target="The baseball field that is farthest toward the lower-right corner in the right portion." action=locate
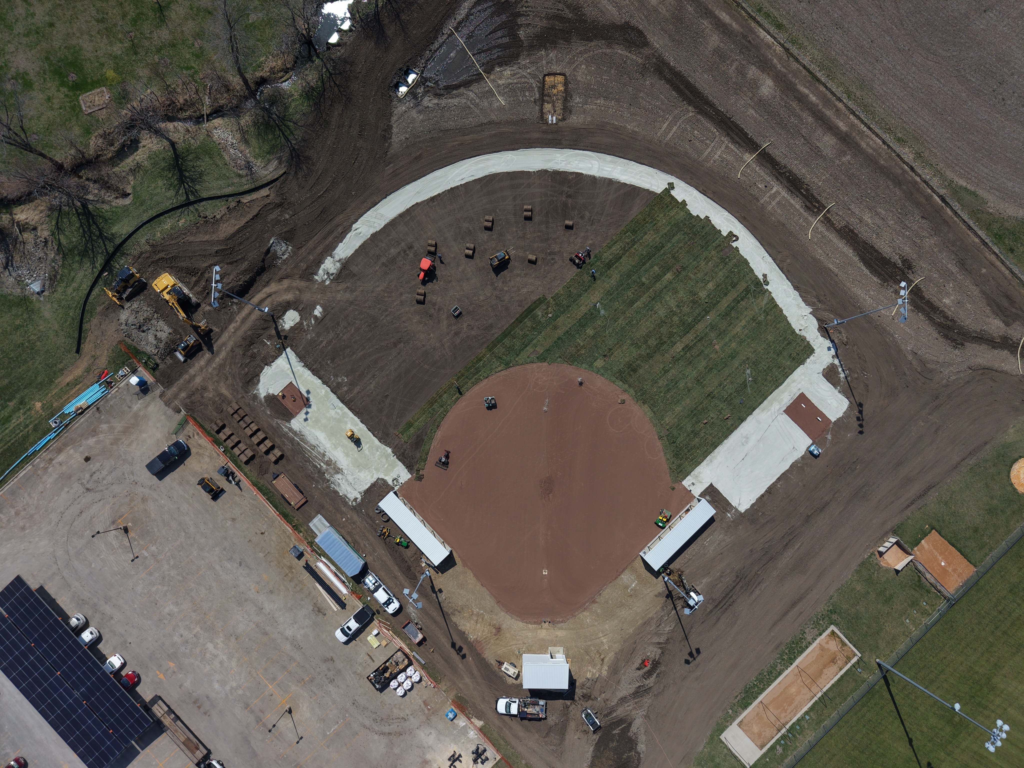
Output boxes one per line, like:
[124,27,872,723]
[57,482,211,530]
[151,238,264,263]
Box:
[780,522,1024,768]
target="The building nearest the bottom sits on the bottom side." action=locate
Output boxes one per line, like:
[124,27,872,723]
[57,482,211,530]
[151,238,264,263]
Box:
[522,640,571,696]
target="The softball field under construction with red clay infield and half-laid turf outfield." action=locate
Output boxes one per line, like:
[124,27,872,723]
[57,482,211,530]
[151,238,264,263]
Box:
[325,148,849,625]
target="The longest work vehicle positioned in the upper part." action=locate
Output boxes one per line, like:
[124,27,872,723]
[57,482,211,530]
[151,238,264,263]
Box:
[154,275,210,334]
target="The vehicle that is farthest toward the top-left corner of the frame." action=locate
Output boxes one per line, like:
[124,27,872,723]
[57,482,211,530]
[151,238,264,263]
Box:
[105,267,146,306]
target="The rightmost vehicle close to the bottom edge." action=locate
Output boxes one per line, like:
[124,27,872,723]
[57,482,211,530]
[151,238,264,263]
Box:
[577,700,602,734]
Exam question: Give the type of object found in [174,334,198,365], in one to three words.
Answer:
work vehicle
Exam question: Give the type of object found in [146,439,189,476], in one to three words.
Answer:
truck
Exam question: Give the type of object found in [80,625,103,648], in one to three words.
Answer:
car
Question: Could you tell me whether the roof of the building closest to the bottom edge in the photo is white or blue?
white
